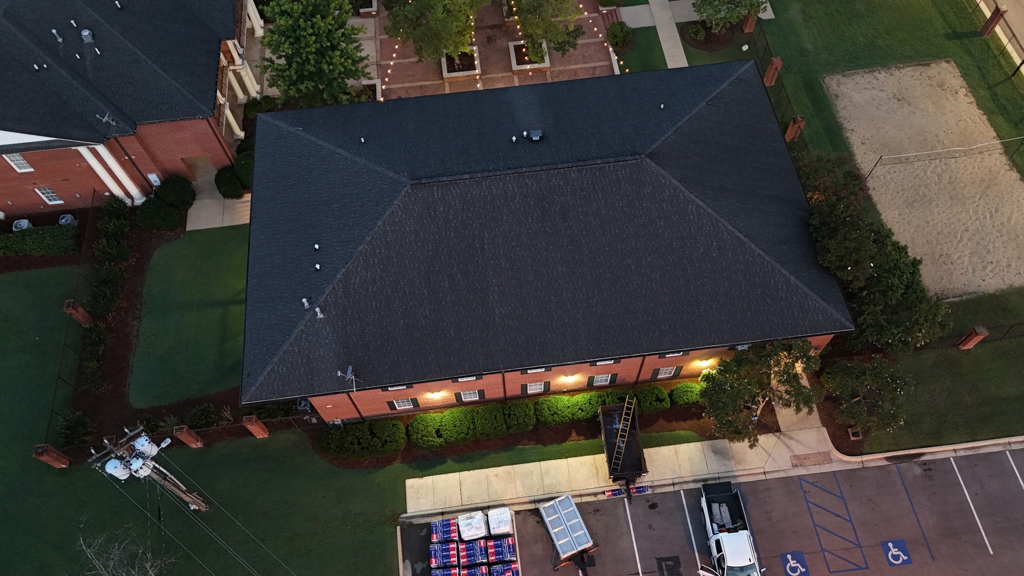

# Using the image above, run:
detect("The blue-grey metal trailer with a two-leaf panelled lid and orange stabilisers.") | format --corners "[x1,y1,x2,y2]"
[539,493,603,576]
